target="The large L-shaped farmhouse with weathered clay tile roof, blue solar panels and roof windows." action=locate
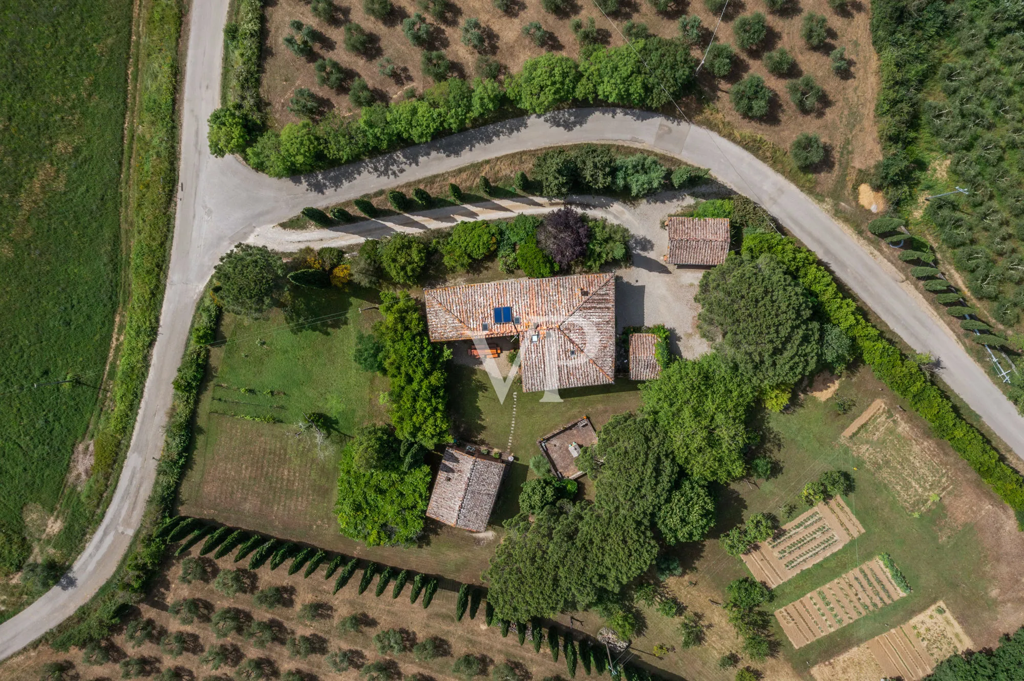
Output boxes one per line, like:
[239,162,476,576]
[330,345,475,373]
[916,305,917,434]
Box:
[424,271,616,394]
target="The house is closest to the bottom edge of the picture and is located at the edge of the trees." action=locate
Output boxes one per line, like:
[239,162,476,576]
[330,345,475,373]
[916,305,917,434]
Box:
[425,445,505,532]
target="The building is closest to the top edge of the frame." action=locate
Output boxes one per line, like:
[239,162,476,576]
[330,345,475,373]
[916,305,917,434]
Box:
[664,216,731,267]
